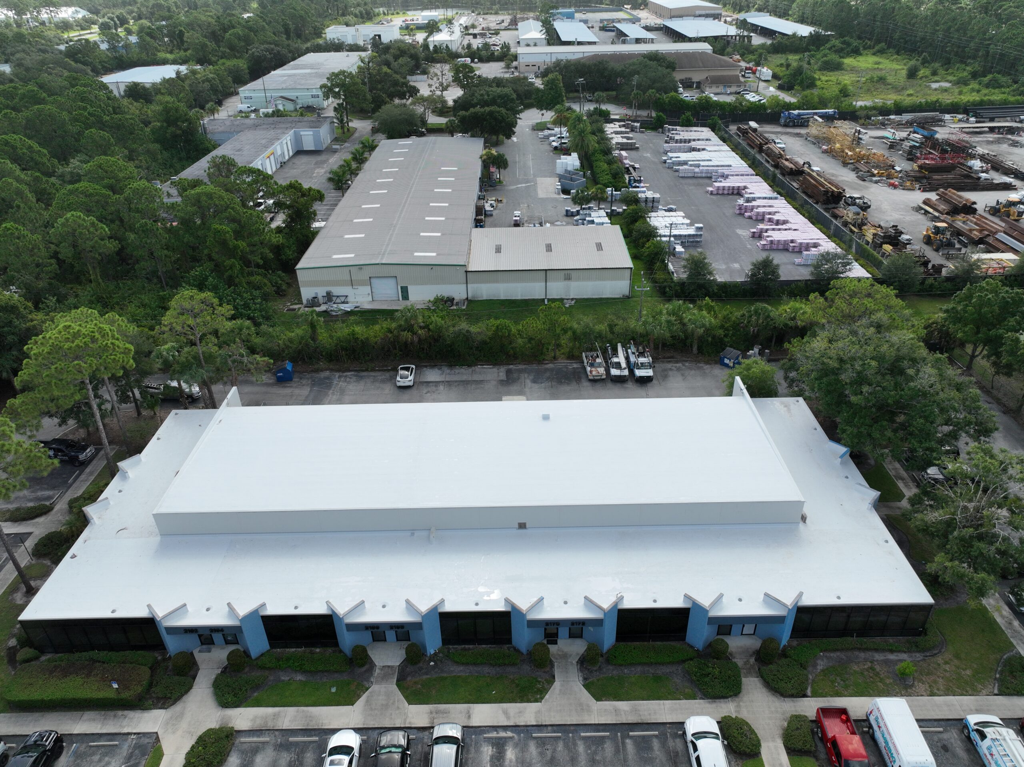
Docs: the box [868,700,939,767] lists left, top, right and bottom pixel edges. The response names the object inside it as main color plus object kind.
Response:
white van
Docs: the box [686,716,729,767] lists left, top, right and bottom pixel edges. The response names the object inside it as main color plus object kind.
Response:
white car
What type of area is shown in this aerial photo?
industrial area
